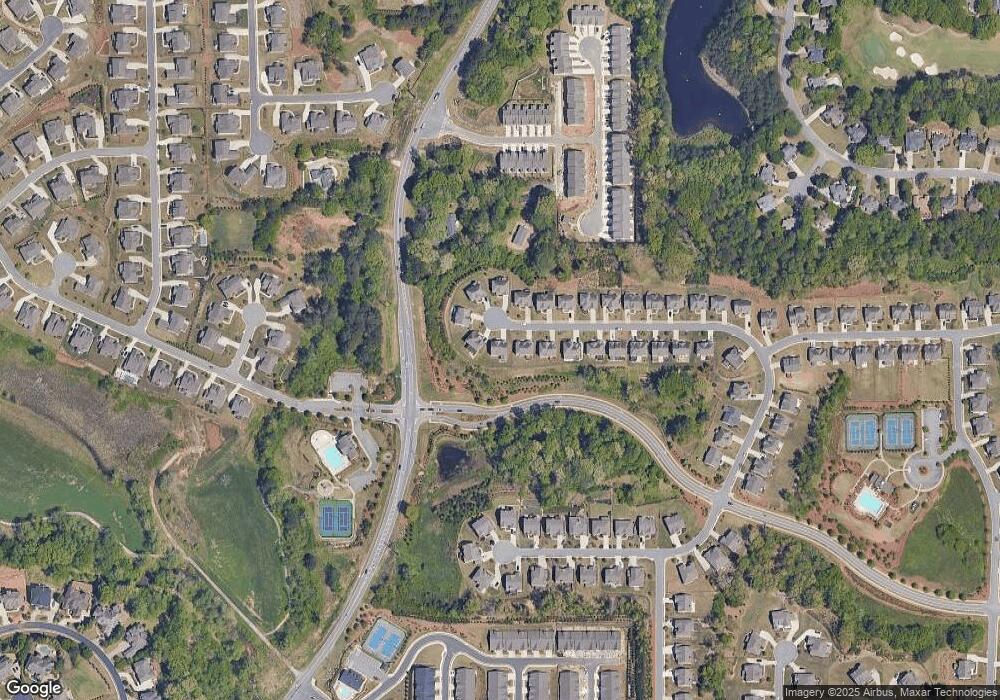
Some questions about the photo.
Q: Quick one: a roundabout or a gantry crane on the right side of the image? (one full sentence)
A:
The one visible on the right side of the image is a roundabout.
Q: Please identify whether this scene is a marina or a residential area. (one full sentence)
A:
The picture captures a residential area.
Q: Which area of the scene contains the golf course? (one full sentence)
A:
Look in the top right portion of the view to spot the golf course.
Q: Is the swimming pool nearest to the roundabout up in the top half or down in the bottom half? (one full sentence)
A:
You can find the swimming pool nearest to the roundabout in the bottom half.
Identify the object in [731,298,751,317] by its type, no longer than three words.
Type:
house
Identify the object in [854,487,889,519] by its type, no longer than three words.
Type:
swimming pool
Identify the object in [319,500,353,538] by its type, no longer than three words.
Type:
tennis court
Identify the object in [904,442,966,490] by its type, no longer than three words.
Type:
roundabout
